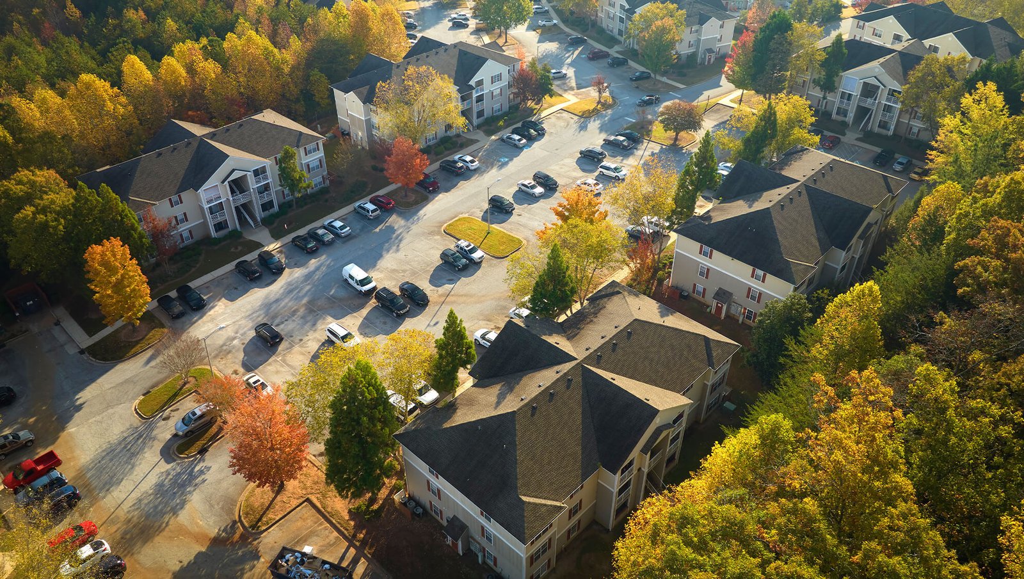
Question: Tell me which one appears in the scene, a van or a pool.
van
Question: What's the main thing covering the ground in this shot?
trees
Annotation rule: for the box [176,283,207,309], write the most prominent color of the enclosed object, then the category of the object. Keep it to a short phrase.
black car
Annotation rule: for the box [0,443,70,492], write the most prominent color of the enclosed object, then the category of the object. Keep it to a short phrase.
red truck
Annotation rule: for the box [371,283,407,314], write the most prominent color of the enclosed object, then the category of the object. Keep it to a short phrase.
black car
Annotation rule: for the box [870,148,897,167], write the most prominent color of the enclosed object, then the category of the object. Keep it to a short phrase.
black vehicle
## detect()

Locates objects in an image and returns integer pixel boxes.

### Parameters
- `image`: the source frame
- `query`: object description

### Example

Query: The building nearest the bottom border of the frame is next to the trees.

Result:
[393,280,742,579]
